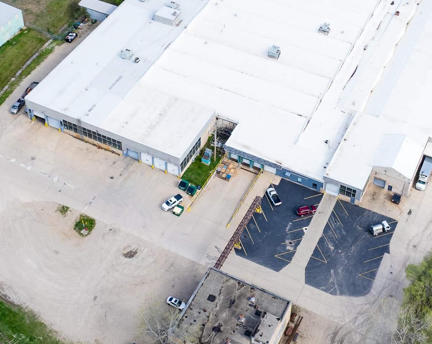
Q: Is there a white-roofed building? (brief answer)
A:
Yes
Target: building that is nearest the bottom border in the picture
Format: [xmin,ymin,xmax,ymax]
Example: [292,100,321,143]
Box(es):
[170,267,291,344]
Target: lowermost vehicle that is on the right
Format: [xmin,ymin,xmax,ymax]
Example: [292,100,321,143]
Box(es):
[368,221,392,234]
